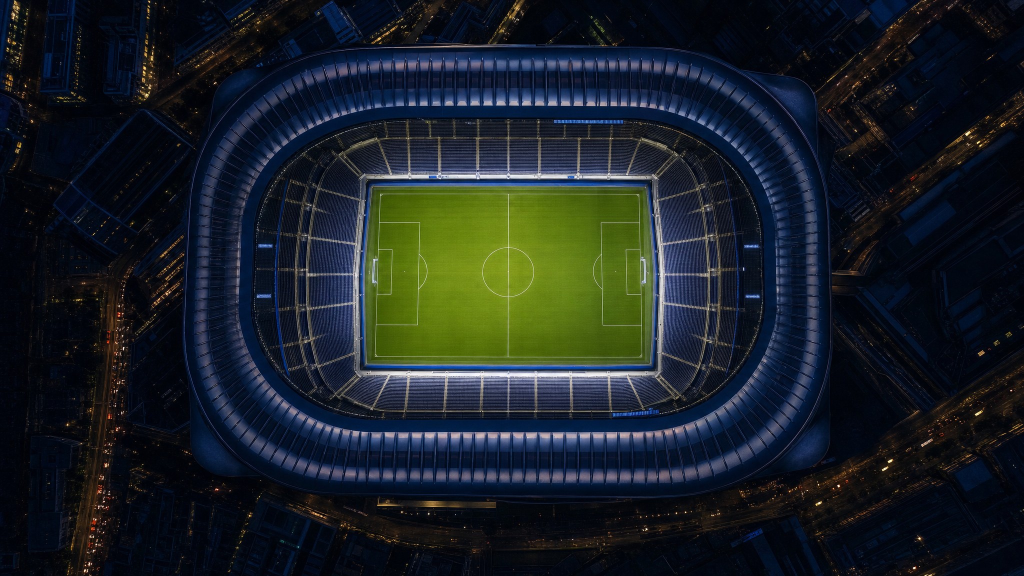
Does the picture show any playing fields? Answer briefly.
Yes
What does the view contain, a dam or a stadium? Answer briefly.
stadium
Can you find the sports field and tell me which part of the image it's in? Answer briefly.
center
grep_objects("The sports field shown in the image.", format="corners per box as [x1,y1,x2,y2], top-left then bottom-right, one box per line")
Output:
[370,191,648,360]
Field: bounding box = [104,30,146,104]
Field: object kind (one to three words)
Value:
building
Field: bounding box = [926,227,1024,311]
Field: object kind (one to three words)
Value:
building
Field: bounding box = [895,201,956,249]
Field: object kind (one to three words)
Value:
shed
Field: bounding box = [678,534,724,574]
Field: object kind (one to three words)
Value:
house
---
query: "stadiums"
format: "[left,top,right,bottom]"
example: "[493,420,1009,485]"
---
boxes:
[182,43,832,503]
